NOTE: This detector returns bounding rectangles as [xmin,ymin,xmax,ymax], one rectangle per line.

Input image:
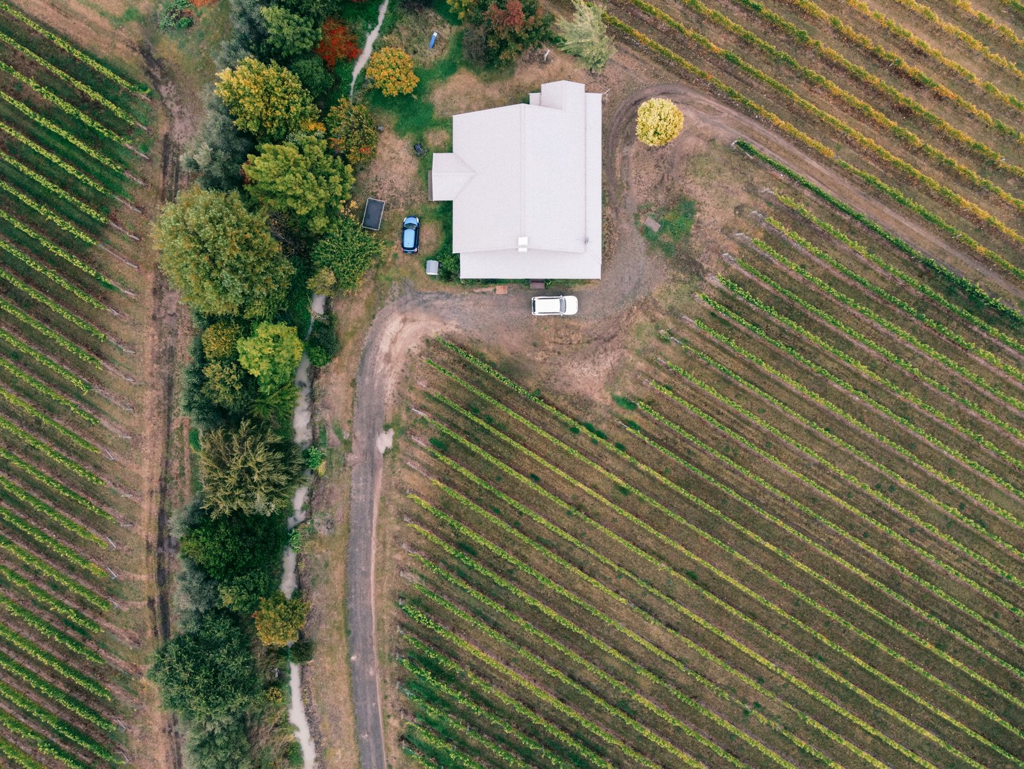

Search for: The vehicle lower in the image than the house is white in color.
[532,295,577,316]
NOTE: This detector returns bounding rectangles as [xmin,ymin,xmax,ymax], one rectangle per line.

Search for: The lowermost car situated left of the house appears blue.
[400,218,421,255]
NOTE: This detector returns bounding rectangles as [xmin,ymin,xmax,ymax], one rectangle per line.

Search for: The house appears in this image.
[428,80,605,290]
